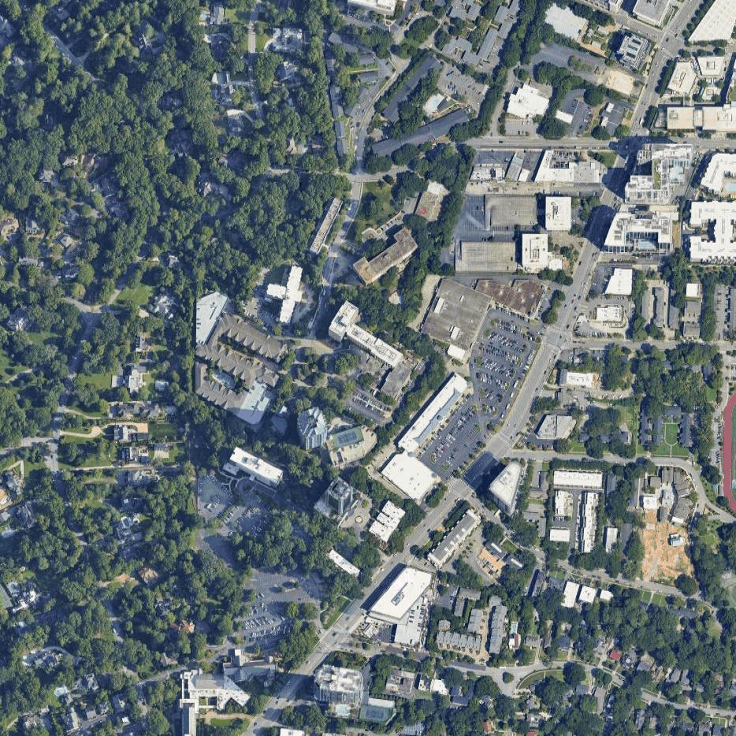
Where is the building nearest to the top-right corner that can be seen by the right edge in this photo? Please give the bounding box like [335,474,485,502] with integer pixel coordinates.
[690,0,736,43]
